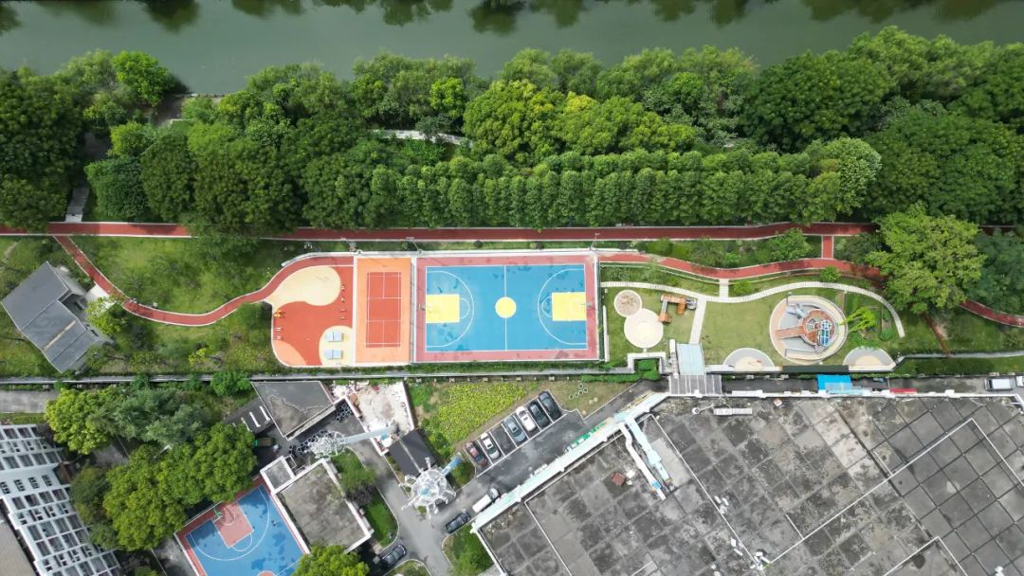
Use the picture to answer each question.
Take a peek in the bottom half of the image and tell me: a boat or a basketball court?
basketball court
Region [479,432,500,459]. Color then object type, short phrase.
white car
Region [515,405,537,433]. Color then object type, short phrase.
white car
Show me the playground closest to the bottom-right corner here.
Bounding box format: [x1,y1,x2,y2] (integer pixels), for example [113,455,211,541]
[767,292,848,366]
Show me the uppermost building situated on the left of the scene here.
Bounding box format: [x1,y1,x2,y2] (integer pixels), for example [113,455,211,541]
[0,261,120,376]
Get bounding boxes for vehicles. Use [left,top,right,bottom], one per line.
[469,486,500,512]
[479,432,500,459]
[444,510,473,533]
[464,441,486,467]
[254,436,284,447]
[539,391,562,420]
[515,405,537,433]
[503,415,525,443]
[528,400,551,428]
[980,379,1015,390]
